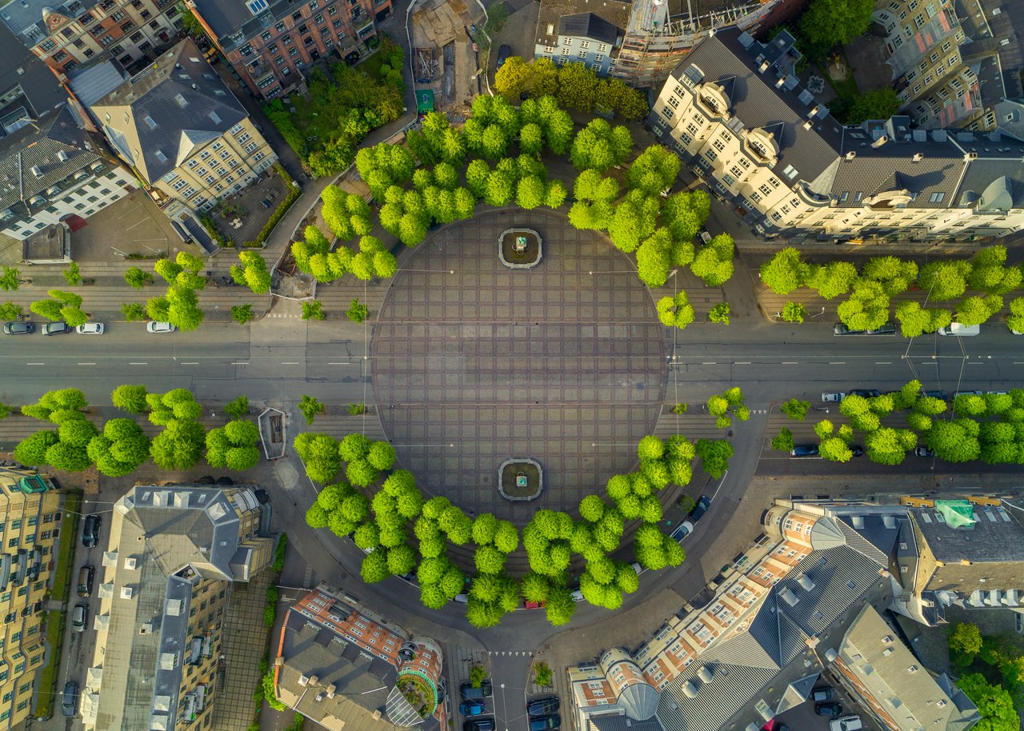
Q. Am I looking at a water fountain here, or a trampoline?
water fountain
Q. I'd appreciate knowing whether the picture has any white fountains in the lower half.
No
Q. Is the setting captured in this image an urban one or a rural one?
urban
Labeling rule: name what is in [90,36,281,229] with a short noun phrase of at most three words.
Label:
house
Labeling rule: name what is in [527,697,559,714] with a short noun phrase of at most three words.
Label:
car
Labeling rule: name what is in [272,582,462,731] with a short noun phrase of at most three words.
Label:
house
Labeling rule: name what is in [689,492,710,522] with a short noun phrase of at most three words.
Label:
car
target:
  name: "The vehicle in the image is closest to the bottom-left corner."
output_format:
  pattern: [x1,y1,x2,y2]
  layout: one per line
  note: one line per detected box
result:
[62,681,80,713]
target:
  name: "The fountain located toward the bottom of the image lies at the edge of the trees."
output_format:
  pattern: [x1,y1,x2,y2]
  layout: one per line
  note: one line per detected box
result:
[497,458,545,502]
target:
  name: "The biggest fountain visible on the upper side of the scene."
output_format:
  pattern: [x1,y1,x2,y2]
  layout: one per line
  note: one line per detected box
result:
[497,226,543,269]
